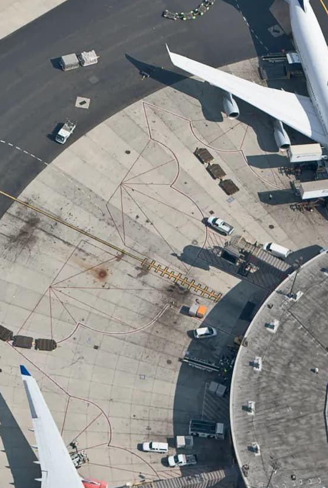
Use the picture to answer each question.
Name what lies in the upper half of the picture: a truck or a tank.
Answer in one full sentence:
There is a truck in the upper half of the picture.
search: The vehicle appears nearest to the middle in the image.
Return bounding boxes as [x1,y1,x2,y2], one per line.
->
[207,218,235,237]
